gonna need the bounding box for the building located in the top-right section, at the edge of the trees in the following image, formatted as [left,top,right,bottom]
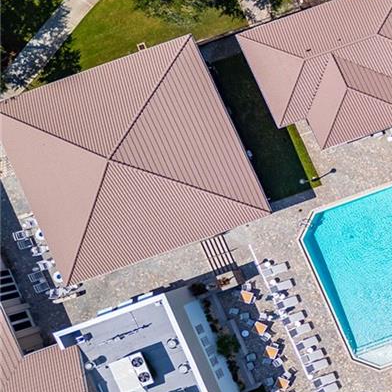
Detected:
[236,0,392,149]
